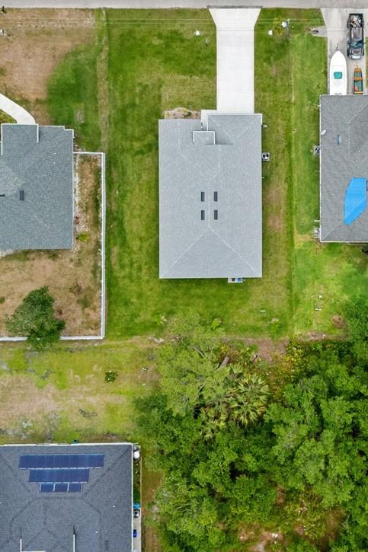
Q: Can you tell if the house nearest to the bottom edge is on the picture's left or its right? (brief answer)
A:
left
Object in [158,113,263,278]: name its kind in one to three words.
house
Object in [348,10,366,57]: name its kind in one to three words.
vehicle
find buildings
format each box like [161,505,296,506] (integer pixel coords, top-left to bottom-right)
[0,441,133,552]
[158,113,263,278]
[319,94,368,242]
[0,123,75,250]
